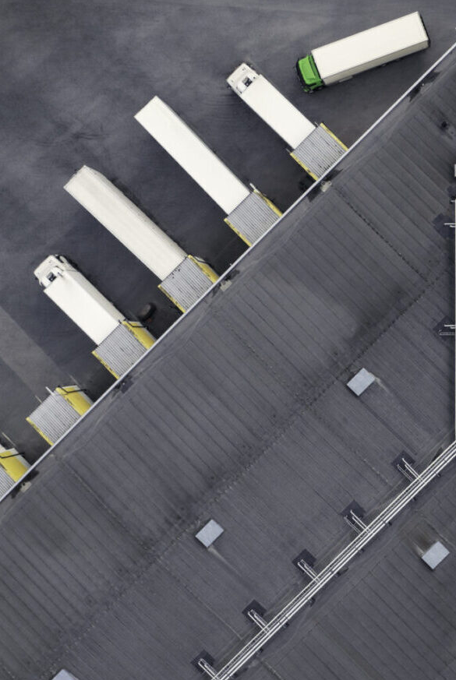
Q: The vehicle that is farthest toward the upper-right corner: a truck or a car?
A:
truck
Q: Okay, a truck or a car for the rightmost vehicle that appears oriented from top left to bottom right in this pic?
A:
truck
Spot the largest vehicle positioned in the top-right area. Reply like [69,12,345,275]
[291,12,429,99]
